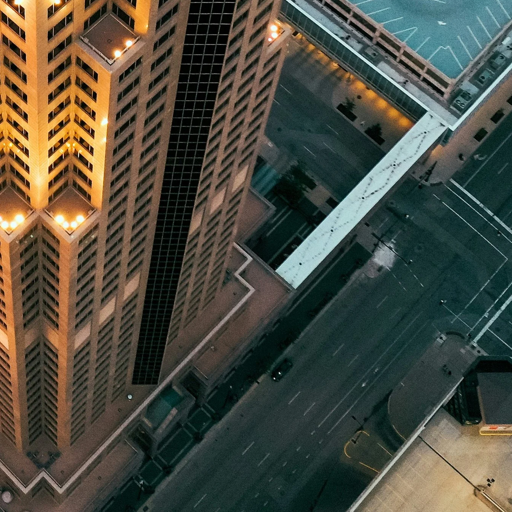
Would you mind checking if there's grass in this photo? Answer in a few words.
No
